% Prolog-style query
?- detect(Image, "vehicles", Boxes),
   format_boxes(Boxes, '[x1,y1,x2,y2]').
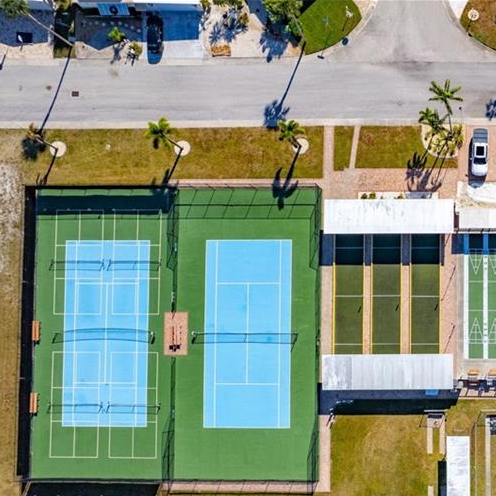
[470,127,490,176]
[144,12,164,52]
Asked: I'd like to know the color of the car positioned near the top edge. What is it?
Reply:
black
